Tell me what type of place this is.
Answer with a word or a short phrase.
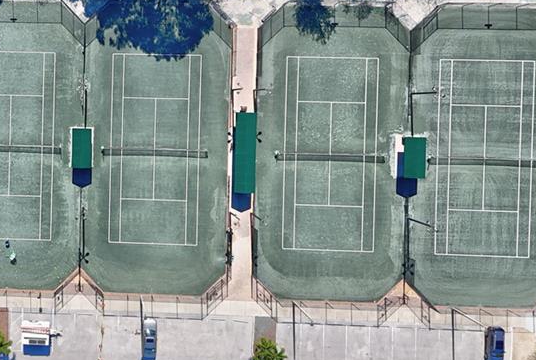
sports ground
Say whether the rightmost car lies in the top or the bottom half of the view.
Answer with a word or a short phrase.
bottom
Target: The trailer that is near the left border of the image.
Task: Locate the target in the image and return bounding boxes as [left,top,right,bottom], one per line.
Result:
[22,314,61,346]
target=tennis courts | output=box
[253,3,411,302]
[0,0,84,290]
[404,5,536,309]
[80,0,233,294]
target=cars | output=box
[484,326,507,360]
[140,319,158,359]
